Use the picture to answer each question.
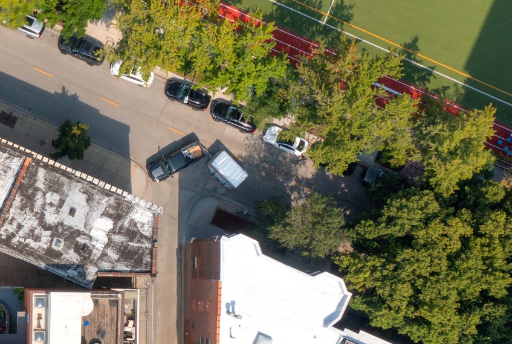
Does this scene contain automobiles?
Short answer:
Yes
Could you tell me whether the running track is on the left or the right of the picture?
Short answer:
right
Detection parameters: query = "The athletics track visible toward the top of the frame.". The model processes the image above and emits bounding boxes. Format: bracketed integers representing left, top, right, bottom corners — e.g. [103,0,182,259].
[173,0,512,162]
